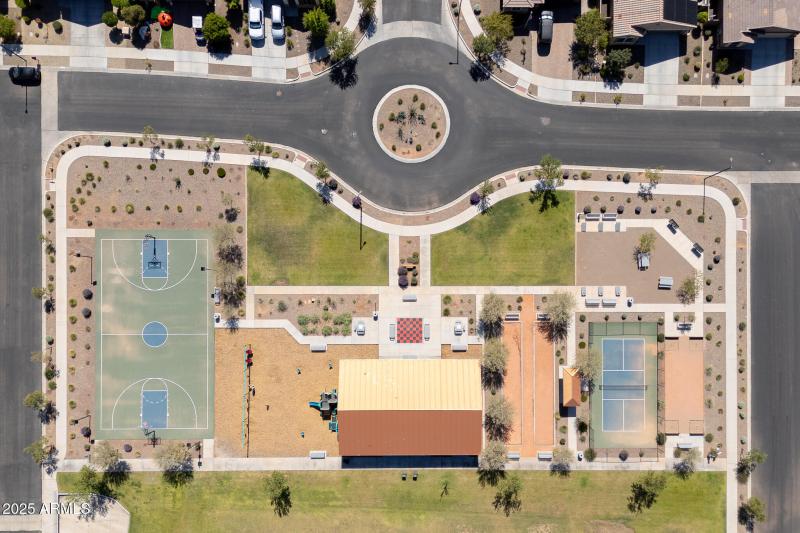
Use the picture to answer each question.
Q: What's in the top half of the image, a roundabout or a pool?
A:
roundabout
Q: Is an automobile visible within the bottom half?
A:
No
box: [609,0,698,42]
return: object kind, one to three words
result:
house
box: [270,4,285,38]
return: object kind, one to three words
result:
car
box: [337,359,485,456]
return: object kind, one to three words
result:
building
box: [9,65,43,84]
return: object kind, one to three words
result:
car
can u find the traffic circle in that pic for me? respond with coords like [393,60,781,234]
[373,84,450,163]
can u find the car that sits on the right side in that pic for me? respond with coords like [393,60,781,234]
[539,10,556,45]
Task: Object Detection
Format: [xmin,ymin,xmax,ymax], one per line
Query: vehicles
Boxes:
[9,65,43,84]
[270,4,285,38]
[247,0,265,39]
[191,16,206,38]
[539,10,556,45]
